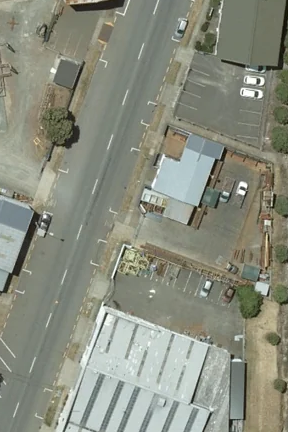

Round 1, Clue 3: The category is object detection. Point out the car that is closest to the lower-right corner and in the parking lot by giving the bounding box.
[221,284,235,306]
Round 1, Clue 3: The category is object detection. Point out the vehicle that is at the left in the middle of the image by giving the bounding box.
[35,210,52,237]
